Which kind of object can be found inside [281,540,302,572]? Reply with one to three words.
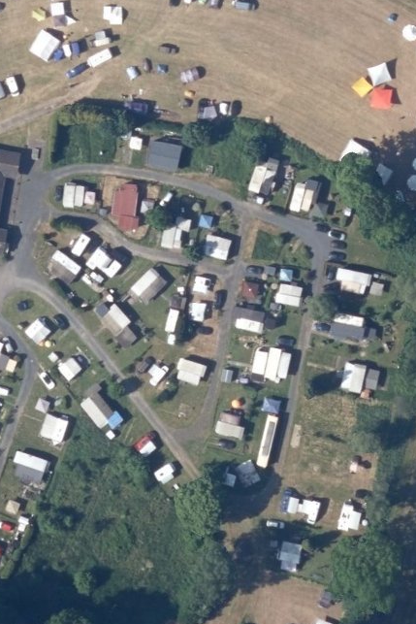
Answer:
house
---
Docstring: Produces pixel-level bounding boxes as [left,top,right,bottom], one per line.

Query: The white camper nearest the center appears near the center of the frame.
[190,303,209,321]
